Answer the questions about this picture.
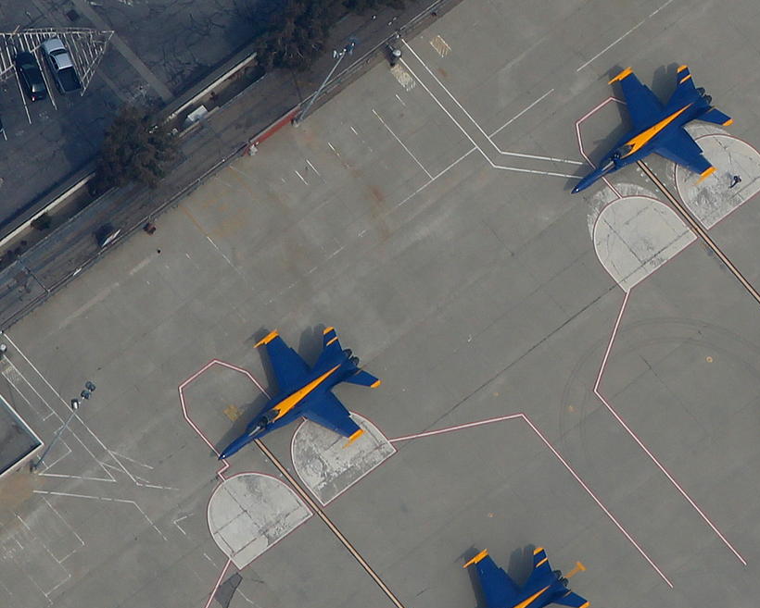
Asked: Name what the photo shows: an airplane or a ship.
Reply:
airplane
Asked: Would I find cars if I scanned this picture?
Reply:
Yes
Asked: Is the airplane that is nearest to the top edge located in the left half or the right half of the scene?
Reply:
right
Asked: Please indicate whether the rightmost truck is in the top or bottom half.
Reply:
top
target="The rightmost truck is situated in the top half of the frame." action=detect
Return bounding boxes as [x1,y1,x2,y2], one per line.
[40,36,84,98]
